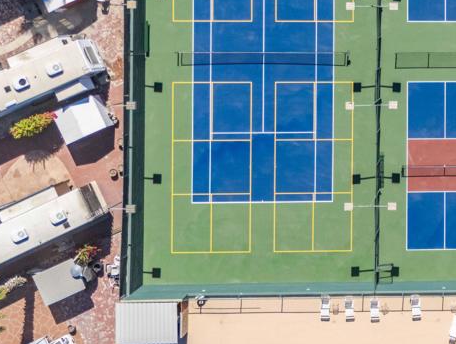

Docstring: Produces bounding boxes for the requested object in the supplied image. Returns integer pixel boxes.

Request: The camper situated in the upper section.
[0,30,118,129]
